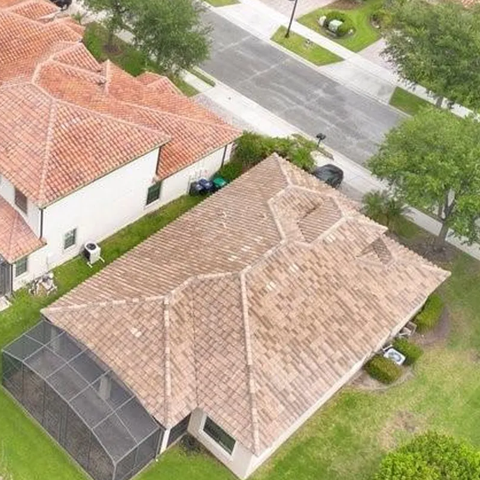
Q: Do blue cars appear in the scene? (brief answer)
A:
No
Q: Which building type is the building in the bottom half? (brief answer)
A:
residential house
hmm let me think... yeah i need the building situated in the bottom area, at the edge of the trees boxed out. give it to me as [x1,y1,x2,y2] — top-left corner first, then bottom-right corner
[36,155,451,474]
